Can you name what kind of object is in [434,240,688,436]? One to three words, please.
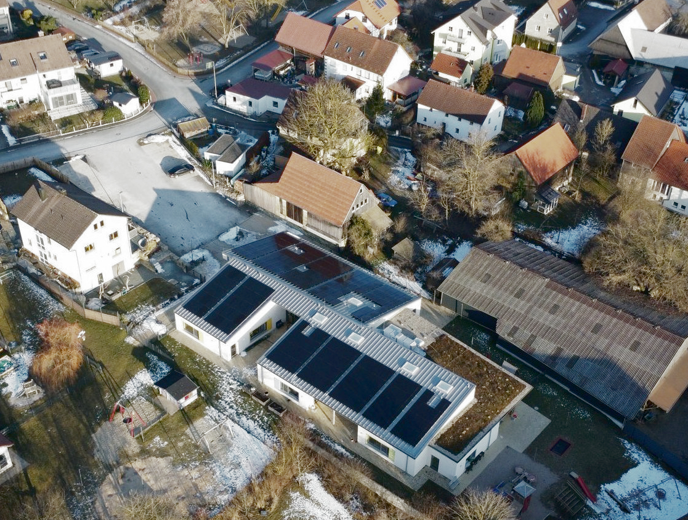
barn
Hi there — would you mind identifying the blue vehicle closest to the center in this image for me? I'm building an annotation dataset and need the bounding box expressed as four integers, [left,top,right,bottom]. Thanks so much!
[374,189,400,205]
